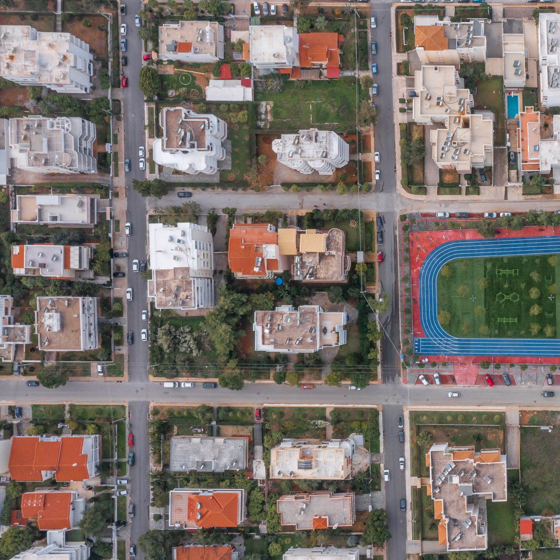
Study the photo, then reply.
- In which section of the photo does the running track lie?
right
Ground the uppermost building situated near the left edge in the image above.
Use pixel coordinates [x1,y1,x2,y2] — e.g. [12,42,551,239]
[0,24,89,95]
